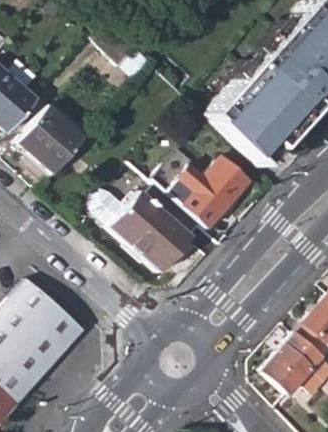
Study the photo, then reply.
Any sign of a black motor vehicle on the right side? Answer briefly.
No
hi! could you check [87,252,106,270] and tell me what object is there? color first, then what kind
white car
